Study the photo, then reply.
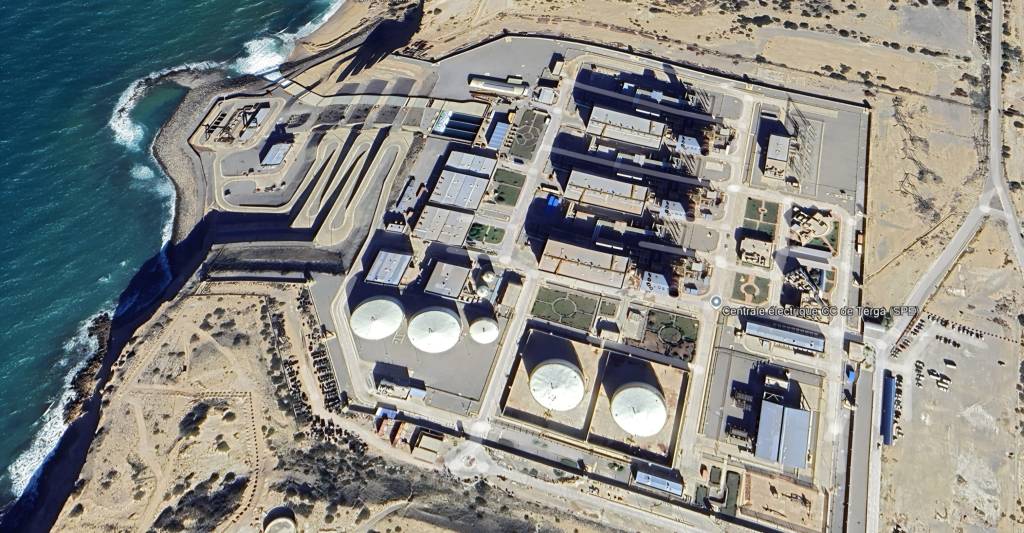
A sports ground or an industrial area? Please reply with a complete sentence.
This image shows an industrial area.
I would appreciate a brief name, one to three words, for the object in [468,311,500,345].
storage tank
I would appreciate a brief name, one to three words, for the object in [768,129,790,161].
building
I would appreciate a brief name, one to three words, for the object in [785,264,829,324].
building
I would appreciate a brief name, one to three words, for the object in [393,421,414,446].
shed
